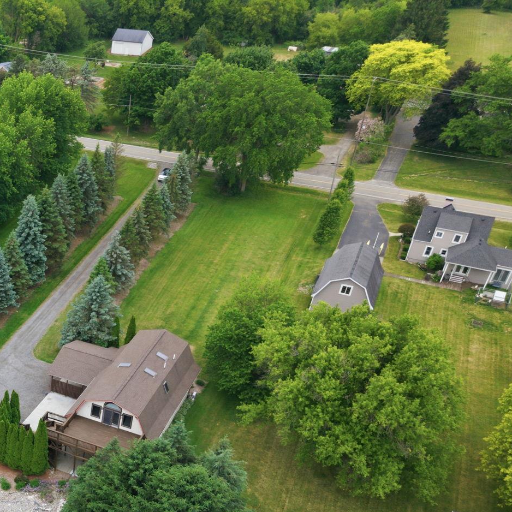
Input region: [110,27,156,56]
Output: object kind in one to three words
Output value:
building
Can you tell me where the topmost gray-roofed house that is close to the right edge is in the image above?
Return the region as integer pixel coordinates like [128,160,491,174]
[406,191,512,289]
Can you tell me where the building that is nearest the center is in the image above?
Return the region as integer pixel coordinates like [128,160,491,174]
[311,242,388,312]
